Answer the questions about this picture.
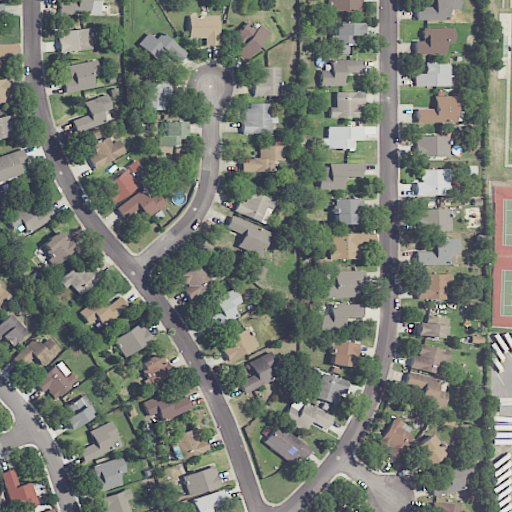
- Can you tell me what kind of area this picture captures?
residential area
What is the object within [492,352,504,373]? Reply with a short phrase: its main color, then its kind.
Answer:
white vehicle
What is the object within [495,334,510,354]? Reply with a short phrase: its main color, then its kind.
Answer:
white vehicle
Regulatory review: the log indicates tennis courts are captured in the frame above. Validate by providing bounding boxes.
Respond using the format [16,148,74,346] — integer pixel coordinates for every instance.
[492,256,512,326]
[494,186,512,256]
